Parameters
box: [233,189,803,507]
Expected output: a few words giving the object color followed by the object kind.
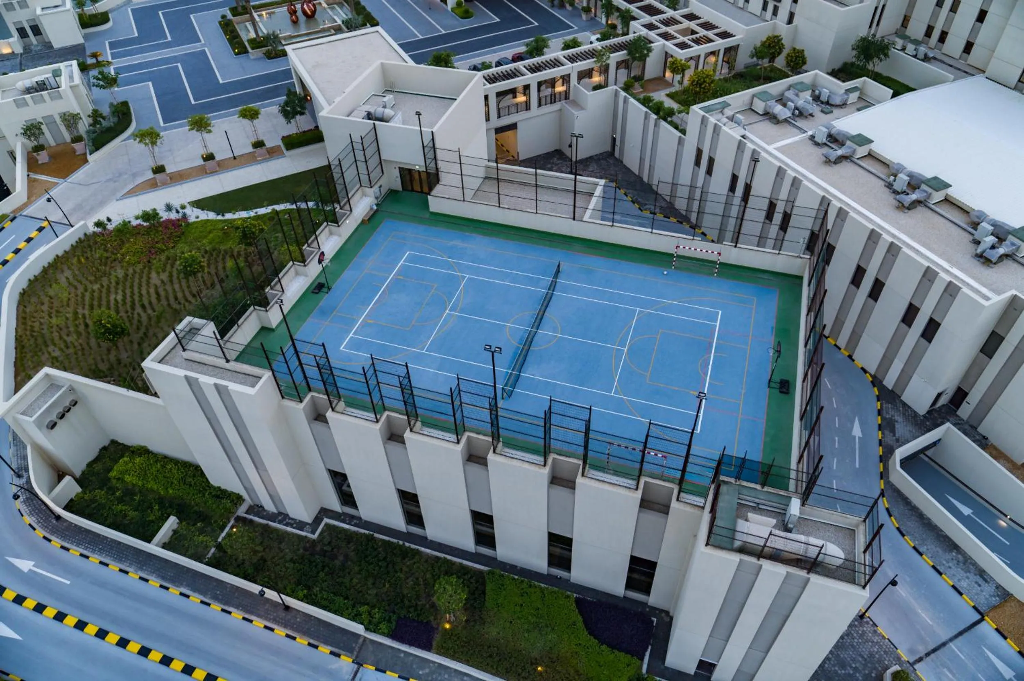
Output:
blue sports court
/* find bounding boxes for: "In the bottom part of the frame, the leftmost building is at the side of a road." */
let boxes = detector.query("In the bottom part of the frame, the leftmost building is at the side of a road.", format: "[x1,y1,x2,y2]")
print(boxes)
[20,381,113,484]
